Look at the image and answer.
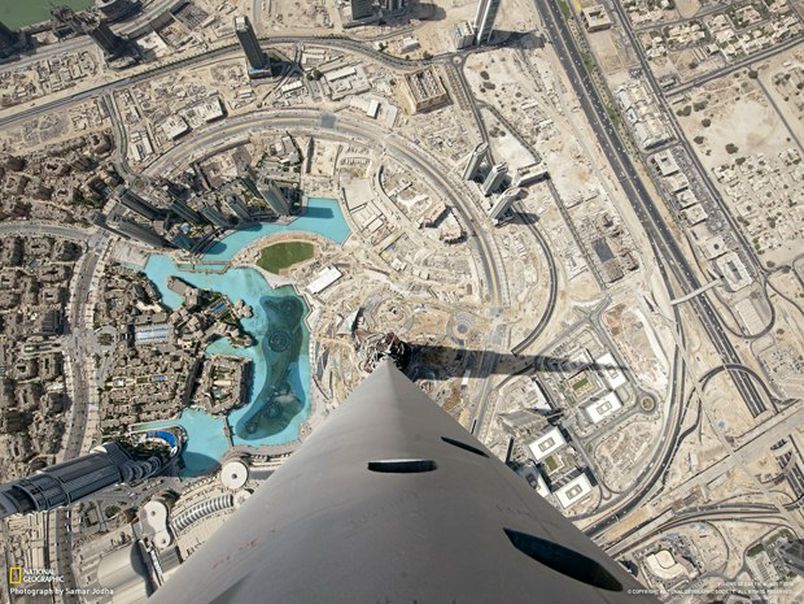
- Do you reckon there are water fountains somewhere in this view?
Yes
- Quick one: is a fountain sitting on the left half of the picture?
Yes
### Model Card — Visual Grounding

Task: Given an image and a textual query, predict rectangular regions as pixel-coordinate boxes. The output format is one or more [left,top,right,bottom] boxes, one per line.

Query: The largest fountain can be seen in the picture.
[236,289,304,440]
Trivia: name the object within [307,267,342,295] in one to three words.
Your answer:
shed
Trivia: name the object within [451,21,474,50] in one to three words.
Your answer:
building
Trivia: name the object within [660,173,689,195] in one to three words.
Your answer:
building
